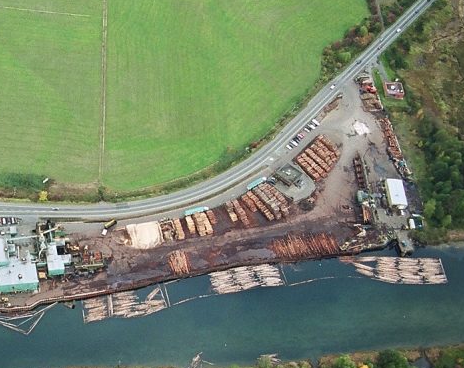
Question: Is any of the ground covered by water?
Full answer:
Yes, water shows up in the scene.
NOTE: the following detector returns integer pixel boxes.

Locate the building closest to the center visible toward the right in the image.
[275,163,302,186]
